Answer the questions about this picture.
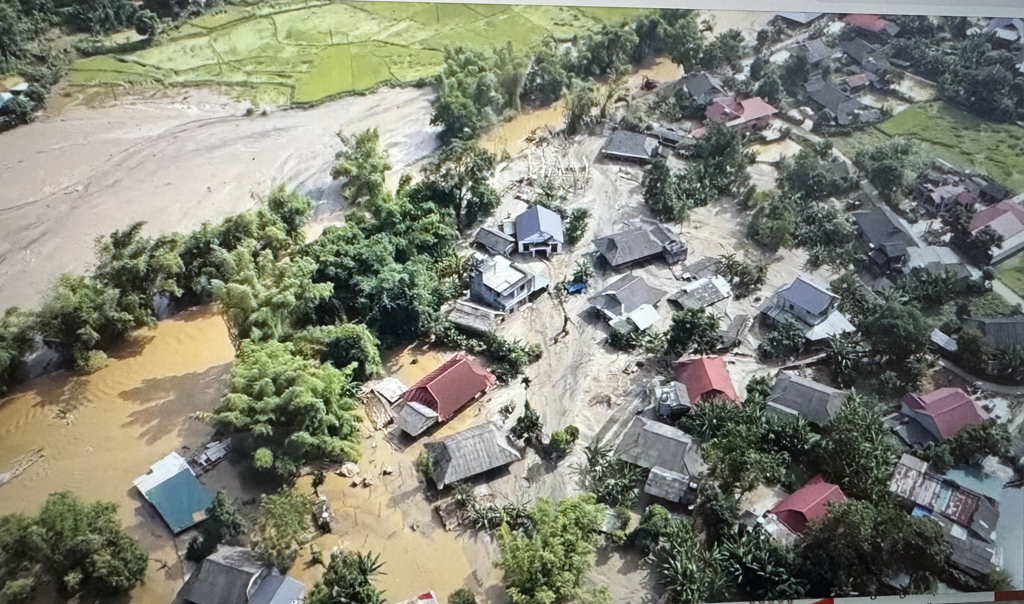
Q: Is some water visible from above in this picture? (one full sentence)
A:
Yes, some water is visible.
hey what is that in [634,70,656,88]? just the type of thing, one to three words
work vehicle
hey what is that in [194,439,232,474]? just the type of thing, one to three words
shed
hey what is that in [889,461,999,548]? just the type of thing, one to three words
building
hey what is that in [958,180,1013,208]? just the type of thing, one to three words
house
